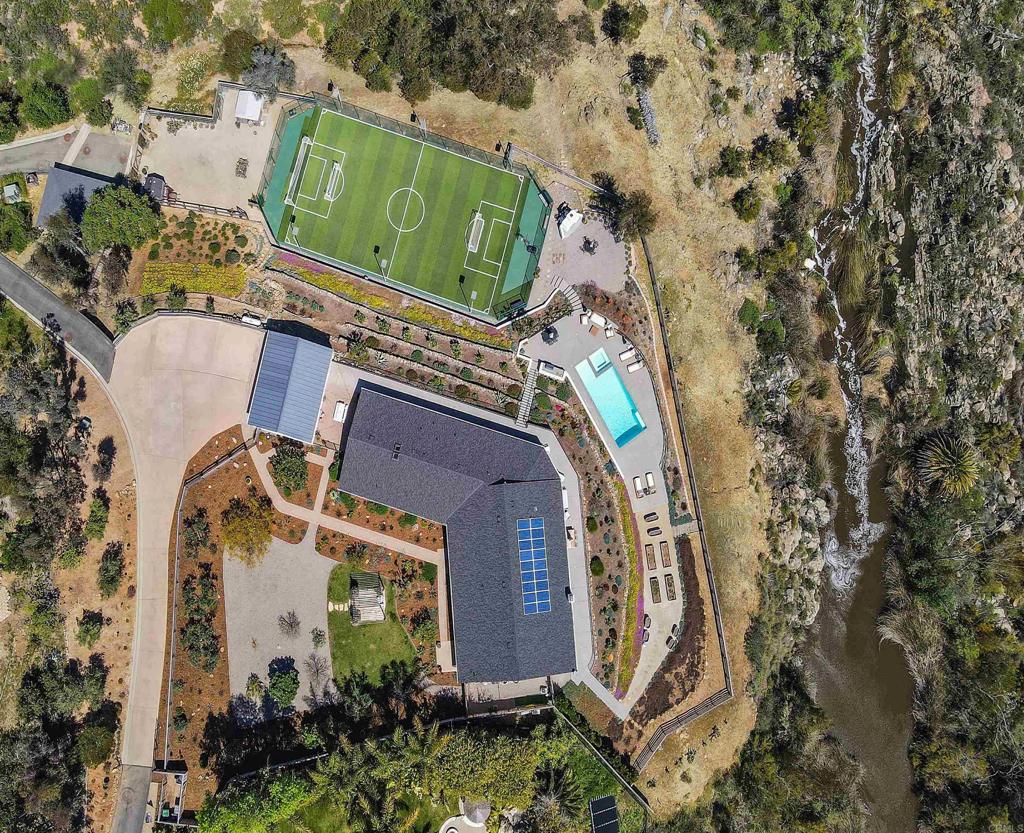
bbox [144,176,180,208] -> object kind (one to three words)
shed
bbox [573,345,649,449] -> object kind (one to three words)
swimming pool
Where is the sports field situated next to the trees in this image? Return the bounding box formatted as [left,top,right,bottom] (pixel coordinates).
[263,103,552,325]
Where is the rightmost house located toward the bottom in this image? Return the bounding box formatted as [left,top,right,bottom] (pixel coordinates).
[338,388,576,683]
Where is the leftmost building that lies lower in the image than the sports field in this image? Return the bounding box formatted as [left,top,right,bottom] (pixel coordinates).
[248,331,333,443]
